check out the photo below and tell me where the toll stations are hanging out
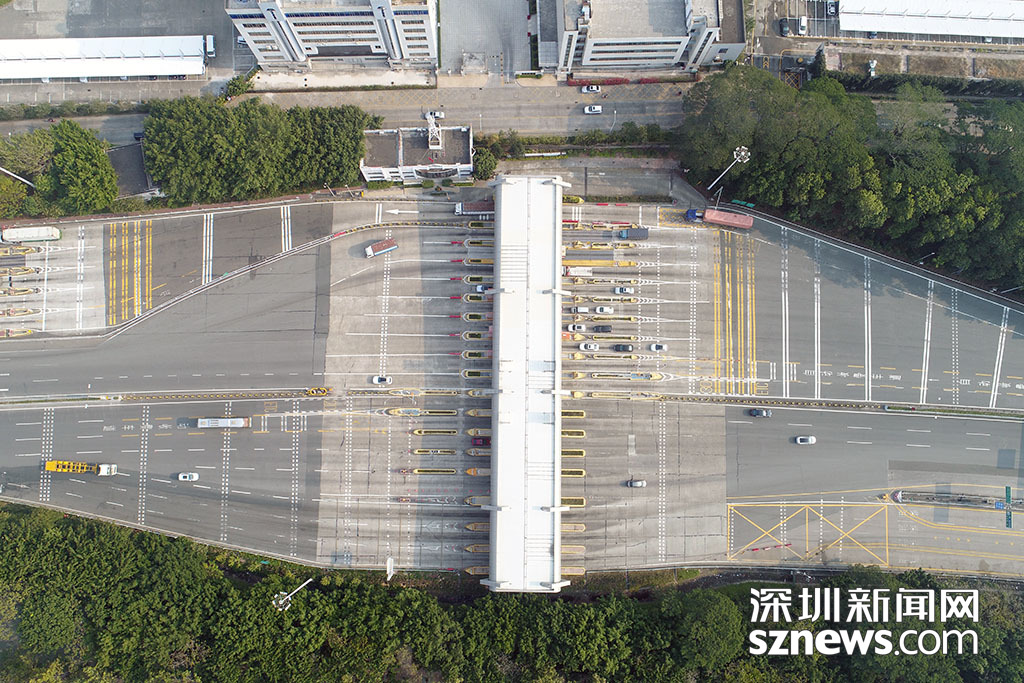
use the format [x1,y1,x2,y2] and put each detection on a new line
[482,175,572,593]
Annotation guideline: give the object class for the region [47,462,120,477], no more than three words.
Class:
vehicle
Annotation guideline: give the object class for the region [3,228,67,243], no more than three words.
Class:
vehicle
